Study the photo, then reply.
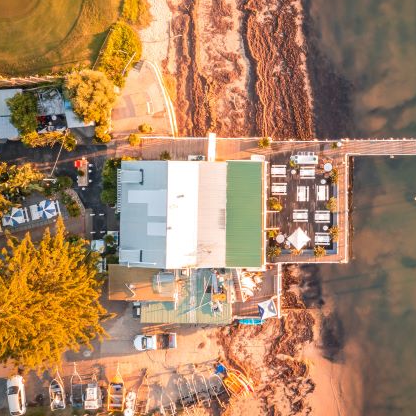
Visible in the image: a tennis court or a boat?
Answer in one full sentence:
I can see a boat in this picture.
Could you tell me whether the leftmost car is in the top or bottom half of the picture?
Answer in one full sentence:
It is in the bottom half that the leftmost car appears.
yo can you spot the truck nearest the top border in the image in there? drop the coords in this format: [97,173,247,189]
[137,331,182,353]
